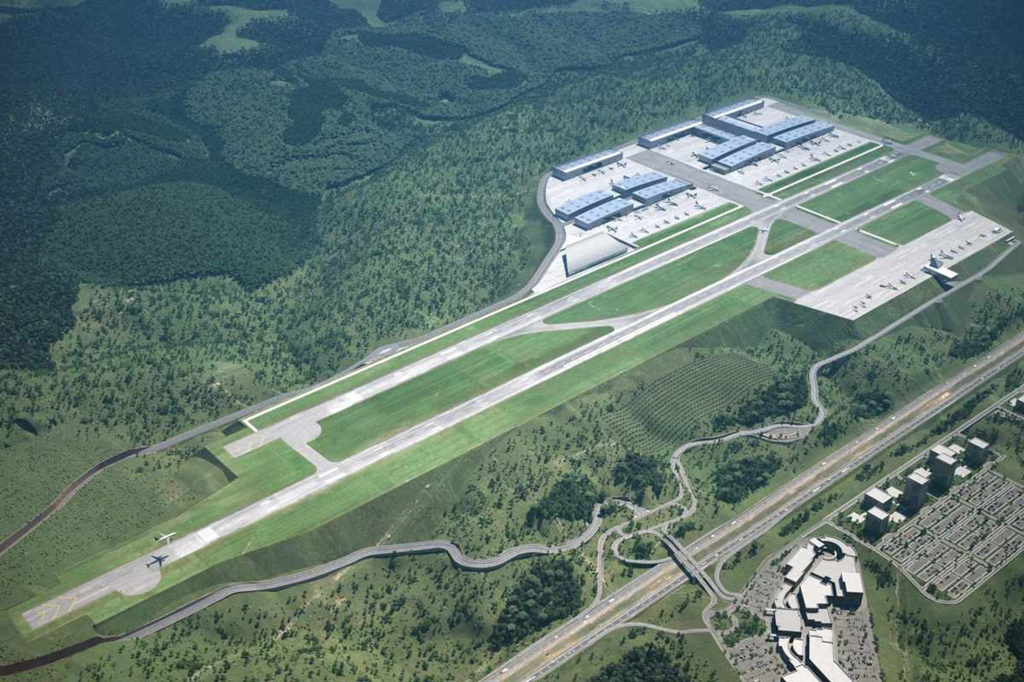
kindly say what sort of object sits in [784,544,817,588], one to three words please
building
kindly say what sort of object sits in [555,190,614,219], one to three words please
hangar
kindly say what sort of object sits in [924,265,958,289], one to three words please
building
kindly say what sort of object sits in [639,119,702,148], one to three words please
shed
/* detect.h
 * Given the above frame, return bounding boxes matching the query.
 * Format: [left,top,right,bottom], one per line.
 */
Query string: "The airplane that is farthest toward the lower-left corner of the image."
[152,530,176,544]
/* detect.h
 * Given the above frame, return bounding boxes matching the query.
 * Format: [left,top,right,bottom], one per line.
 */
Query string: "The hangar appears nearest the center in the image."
[566,232,628,276]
